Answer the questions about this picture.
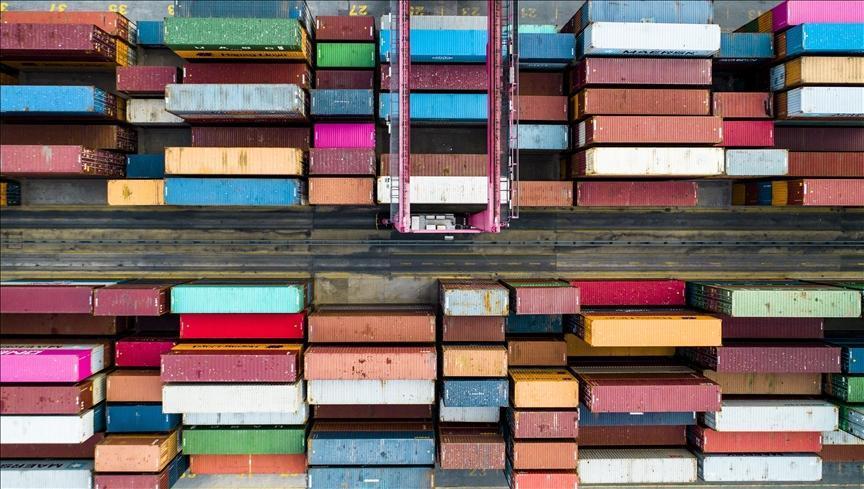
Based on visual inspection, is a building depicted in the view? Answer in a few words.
No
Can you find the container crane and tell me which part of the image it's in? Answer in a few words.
top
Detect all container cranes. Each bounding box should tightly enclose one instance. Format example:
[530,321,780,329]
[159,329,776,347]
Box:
[373,0,525,234]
